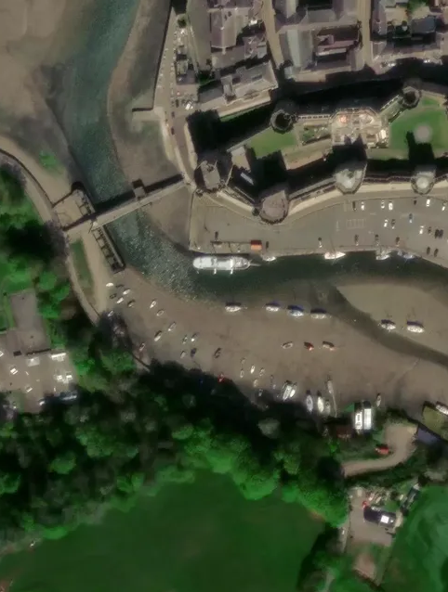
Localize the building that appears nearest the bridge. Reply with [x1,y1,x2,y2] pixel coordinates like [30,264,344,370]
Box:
[196,81,448,220]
